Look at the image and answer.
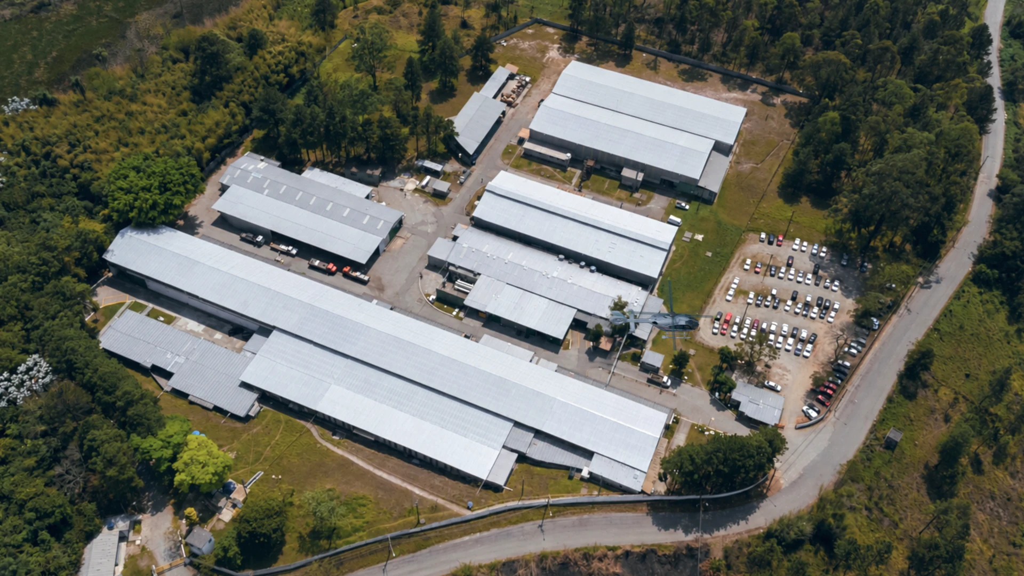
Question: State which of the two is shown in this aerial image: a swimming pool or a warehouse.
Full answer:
There is a warehouse in the scene.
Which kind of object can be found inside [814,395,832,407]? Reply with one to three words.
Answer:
vehicle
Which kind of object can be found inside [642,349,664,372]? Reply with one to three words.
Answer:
shed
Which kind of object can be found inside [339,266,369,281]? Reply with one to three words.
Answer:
vehicle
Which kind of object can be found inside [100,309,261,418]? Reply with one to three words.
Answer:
building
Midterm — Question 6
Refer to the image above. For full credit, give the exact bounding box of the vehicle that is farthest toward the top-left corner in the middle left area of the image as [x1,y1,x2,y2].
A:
[240,233,267,247]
